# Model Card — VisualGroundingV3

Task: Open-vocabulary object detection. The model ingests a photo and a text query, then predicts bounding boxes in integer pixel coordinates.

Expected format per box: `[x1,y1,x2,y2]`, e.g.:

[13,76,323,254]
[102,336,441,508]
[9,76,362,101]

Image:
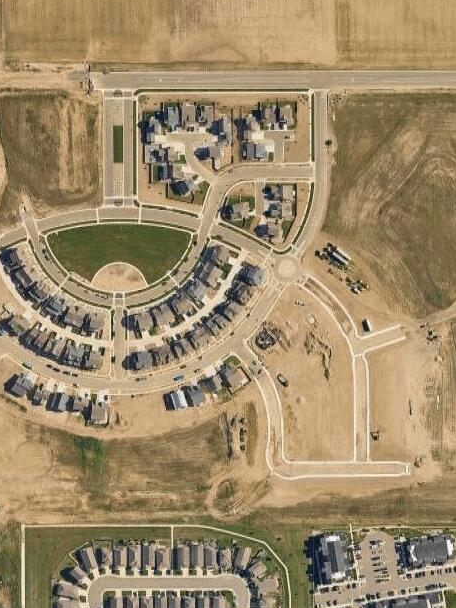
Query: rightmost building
[408,535,456,568]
